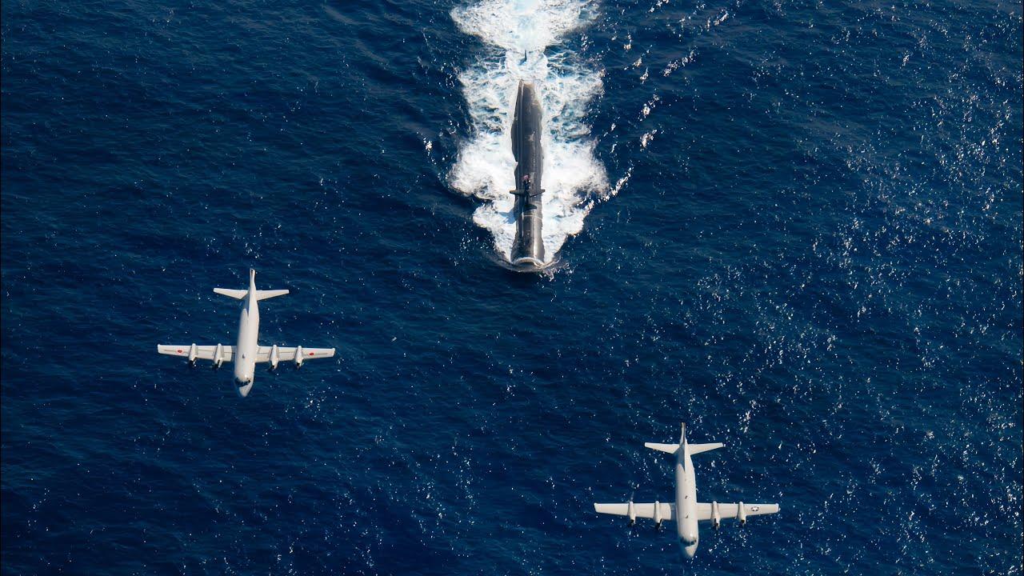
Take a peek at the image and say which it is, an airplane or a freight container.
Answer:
airplane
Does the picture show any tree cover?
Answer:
No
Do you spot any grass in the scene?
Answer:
No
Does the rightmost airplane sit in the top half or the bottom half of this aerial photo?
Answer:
bottom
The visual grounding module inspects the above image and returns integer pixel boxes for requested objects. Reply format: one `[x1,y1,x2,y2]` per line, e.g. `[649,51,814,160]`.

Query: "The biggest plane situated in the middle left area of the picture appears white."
[158,269,335,398]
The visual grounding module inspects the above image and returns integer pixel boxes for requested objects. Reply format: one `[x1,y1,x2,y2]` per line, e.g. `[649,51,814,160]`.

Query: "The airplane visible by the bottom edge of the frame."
[595,423,779,560]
